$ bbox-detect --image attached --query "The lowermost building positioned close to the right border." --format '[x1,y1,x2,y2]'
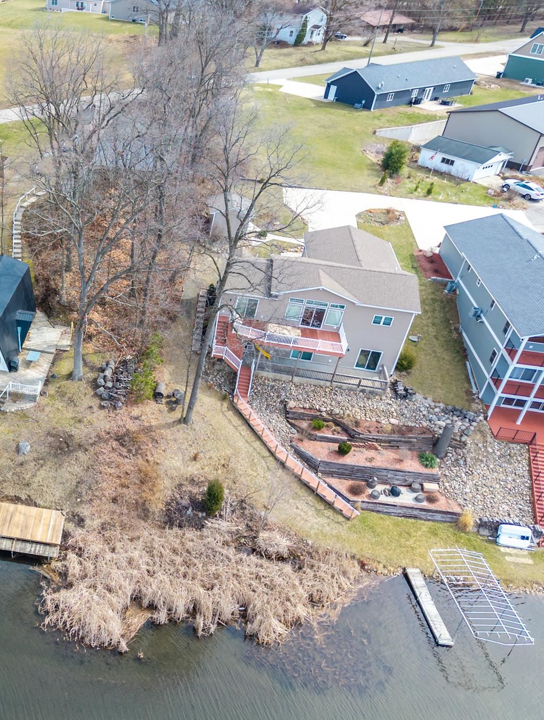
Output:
[427,210,544,422]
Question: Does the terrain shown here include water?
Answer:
Yes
